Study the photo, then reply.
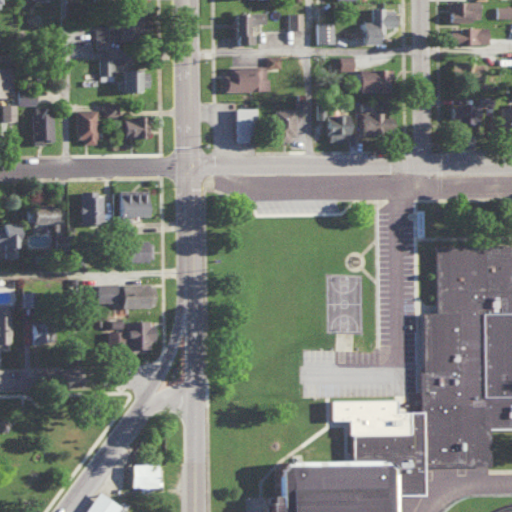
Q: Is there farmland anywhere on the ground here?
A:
No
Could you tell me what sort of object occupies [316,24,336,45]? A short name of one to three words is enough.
building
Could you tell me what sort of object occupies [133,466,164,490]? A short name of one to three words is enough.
house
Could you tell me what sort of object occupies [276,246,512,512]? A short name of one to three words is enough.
building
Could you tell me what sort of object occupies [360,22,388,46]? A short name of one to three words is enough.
house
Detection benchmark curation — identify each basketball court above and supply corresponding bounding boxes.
[326,275,362,334]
